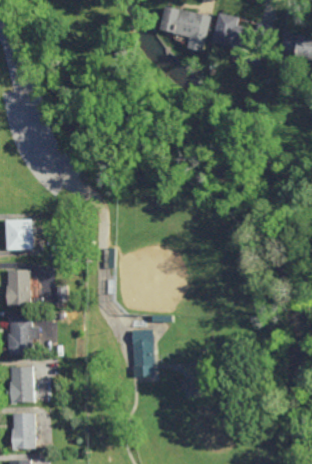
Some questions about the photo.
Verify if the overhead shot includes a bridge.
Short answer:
No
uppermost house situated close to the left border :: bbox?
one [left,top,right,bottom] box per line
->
[6,218,34,254]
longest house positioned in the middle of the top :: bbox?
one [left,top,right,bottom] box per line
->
[162,8,212,38]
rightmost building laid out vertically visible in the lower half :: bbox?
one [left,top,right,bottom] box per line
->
[133,330,156,378]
